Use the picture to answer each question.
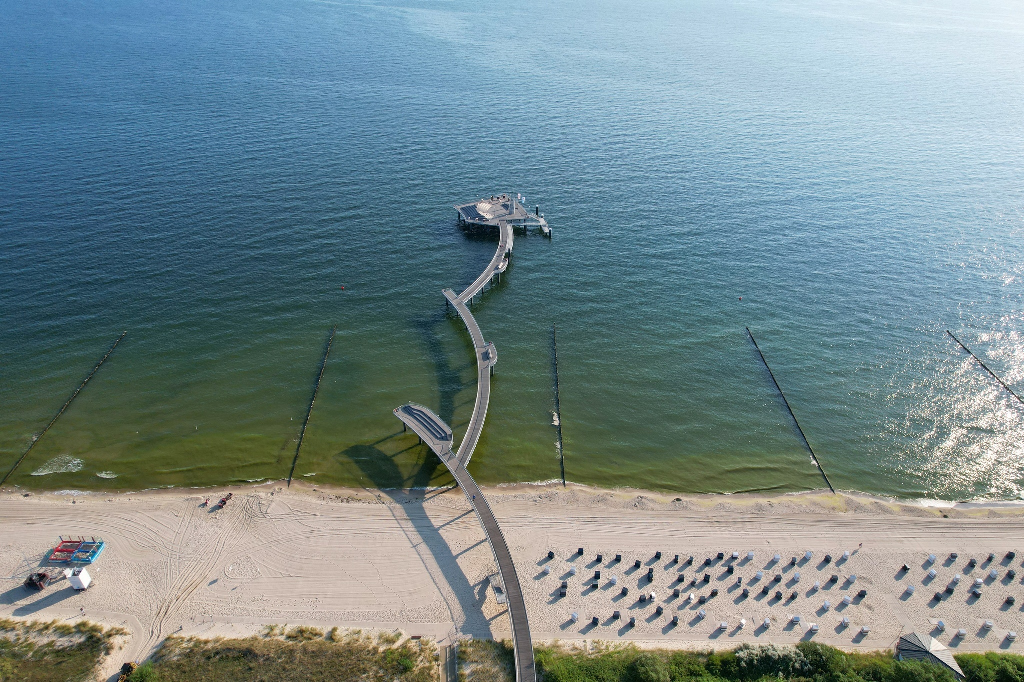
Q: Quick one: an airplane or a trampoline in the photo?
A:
trampoline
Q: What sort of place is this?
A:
beach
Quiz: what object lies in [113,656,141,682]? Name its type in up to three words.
work vehicle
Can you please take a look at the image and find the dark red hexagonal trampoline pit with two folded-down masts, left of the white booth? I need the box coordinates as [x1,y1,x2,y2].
[0,546,57,591]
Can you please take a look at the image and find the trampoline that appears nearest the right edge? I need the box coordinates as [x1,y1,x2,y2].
[45,535,104,563]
